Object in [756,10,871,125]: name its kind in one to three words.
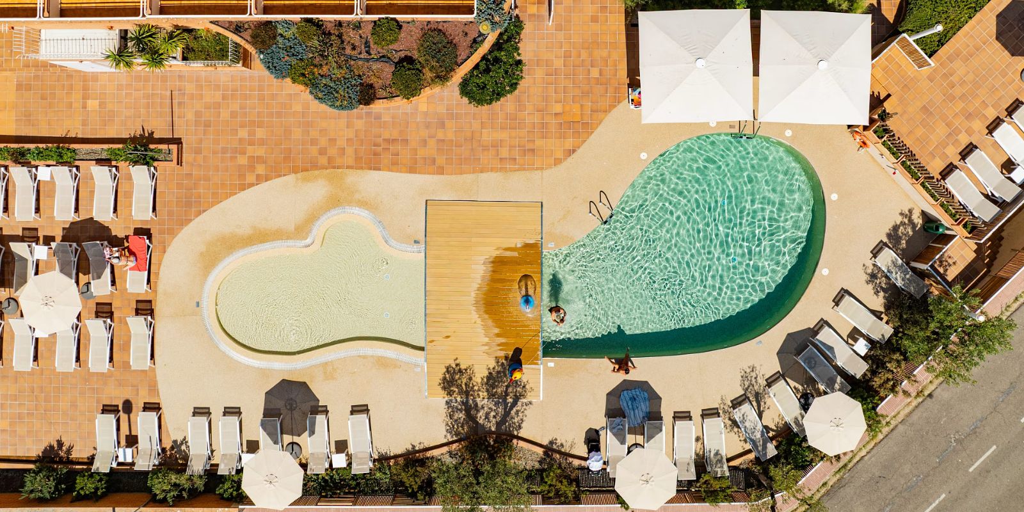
umbrella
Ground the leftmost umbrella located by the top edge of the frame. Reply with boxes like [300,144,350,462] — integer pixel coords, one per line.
[637,9,753,123]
